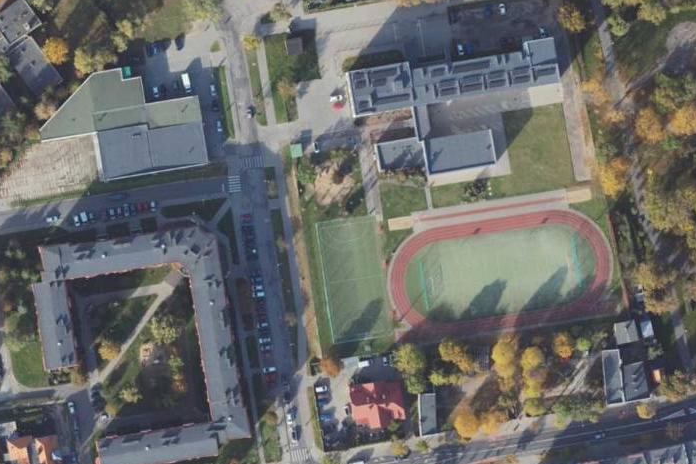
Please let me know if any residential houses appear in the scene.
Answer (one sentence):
Yes, you can see a residential house in this photo.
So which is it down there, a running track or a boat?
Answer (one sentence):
Of the two, only a running track appears.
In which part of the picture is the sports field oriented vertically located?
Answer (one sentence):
The sports field oriented vertically is in the center part of the image.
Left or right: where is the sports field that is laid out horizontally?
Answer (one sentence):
The sports field that is laid out horizontally appears in the right half of the scene.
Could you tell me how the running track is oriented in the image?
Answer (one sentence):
In this picture, the running track lies from side to side.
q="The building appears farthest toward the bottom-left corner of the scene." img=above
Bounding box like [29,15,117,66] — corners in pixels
[5,432,58,464]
